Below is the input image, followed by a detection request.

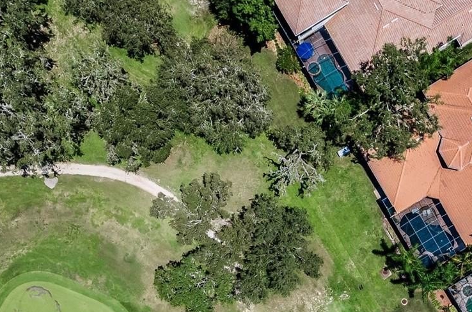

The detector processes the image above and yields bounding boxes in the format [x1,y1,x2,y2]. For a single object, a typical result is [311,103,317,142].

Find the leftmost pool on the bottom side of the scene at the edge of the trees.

[399,211,455,271]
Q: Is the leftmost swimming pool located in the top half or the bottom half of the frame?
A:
top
